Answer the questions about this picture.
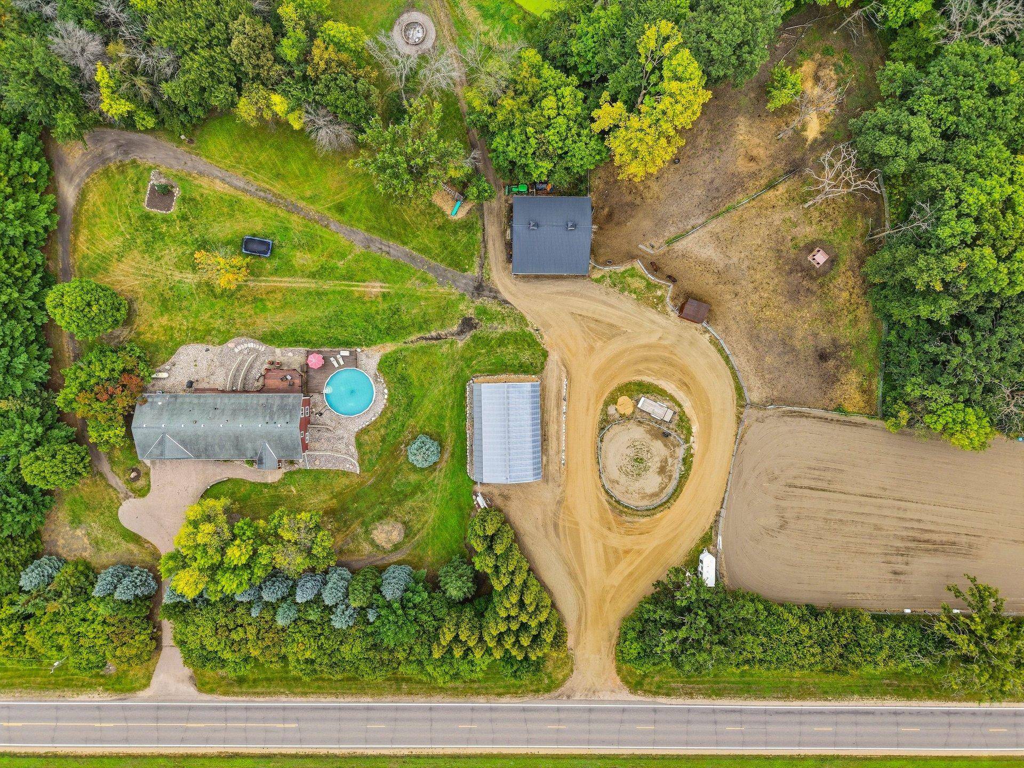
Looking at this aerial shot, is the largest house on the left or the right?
left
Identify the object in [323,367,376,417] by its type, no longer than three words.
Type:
swimming pool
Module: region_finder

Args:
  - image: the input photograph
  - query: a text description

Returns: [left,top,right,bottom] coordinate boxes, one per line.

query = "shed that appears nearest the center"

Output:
[472,381,541,483]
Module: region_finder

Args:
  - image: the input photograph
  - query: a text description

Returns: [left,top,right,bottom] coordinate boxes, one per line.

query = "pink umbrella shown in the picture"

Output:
[308,353,325,370]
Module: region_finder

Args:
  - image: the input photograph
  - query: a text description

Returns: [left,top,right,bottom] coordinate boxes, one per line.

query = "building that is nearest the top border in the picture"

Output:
[513,196,593,277]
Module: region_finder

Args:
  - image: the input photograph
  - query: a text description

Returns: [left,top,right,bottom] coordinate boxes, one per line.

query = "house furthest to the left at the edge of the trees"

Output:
[128,394,310,470]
